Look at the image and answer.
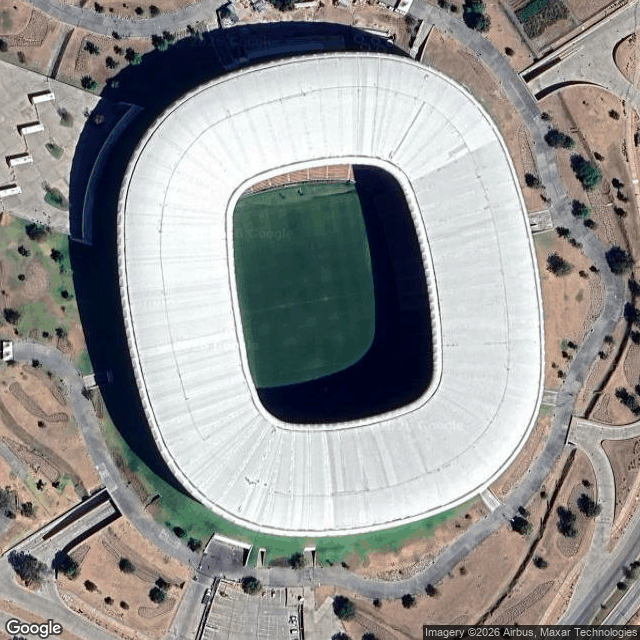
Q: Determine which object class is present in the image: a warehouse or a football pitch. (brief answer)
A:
football pitch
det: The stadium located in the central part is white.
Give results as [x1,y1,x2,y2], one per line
[116,51,545,537]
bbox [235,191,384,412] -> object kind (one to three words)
soccer field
